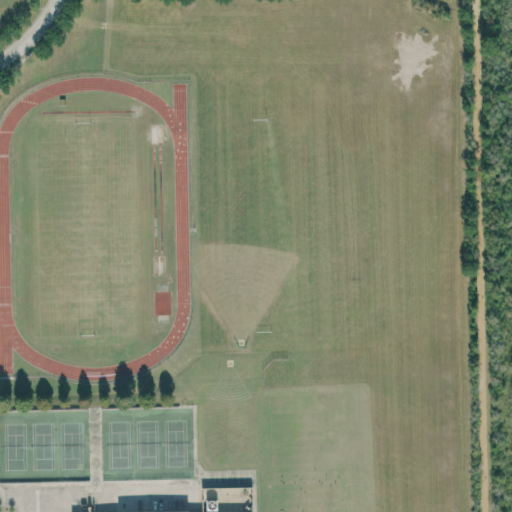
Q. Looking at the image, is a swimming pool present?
No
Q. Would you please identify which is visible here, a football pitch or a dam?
football pitch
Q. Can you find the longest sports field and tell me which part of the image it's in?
left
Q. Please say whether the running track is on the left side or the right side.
left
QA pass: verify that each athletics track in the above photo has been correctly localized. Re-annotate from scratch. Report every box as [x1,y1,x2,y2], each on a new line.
[0,77,191,381]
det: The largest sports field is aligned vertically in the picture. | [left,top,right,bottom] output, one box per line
[37,121,135,337]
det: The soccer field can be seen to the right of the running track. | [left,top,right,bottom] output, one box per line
[227,121,299,242]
